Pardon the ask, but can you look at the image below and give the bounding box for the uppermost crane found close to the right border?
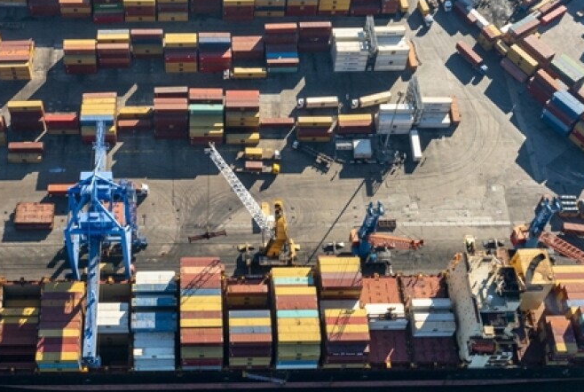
[491,194,584,261]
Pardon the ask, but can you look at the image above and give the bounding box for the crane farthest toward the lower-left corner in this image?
[59,113,144,375]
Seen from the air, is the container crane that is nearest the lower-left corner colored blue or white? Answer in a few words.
blue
